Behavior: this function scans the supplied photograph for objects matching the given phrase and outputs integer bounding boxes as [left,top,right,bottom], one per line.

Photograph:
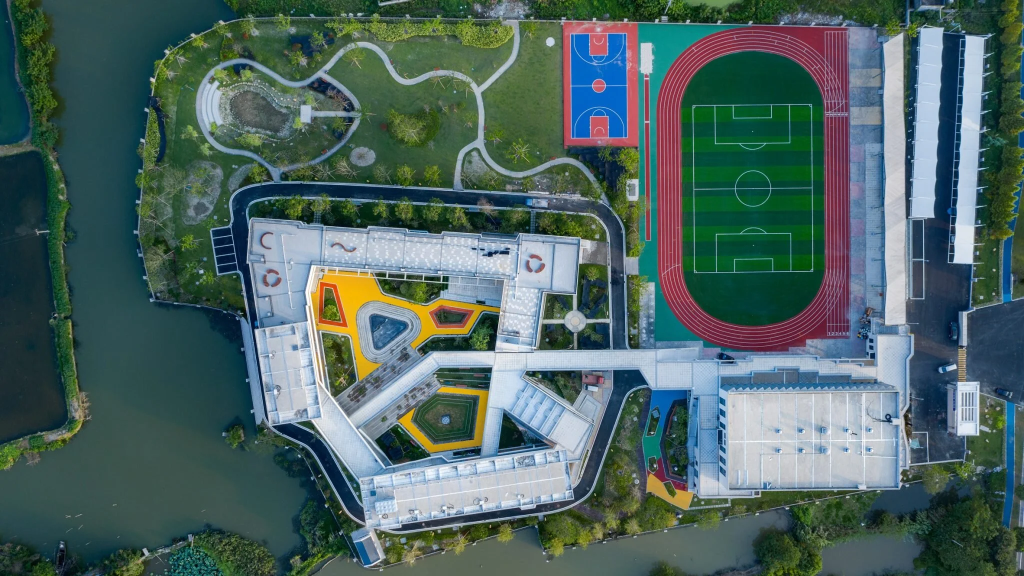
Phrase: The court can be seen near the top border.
[564,23,639,146]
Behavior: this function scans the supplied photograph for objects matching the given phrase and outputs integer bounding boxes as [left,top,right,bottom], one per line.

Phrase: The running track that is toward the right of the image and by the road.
[656,26,850,352]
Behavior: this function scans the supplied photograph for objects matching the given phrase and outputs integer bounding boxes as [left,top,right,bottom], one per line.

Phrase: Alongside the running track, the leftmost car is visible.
[718,351,736,363]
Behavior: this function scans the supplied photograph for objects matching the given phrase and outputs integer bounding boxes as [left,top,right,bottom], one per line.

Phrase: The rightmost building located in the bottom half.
[947,382,980,435]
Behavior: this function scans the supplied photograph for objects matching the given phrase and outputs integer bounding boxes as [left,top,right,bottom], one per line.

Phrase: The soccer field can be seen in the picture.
[682,52,824,326]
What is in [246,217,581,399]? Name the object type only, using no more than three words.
building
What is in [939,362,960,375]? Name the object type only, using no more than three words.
vehicle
